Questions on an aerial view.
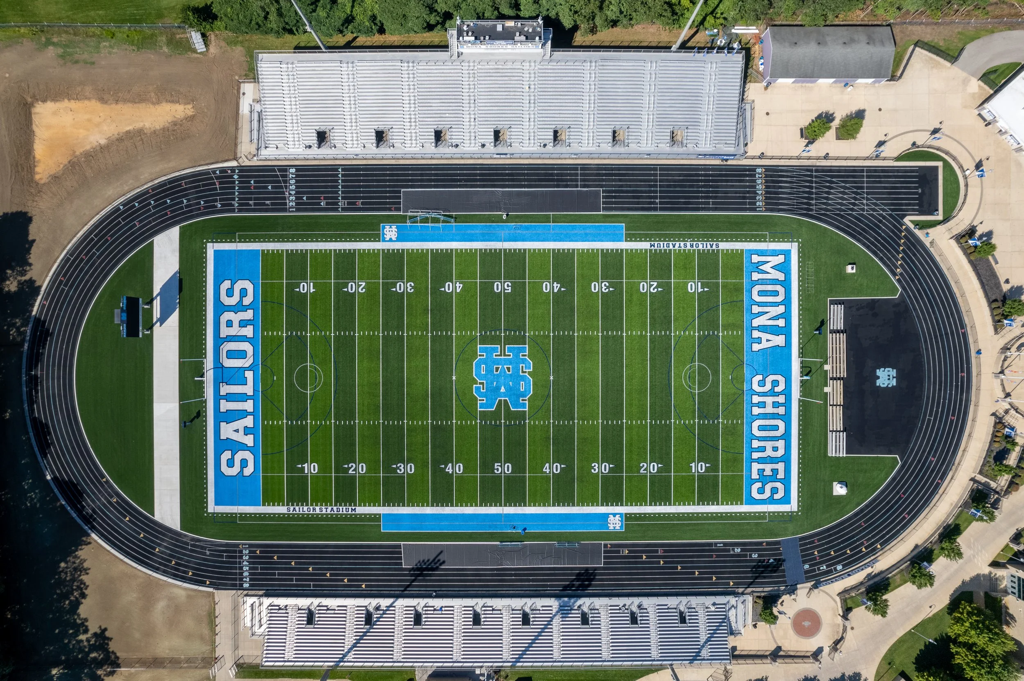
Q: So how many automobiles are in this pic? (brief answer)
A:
0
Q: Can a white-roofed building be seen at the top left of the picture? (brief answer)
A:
No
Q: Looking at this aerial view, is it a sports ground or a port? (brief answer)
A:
sports ground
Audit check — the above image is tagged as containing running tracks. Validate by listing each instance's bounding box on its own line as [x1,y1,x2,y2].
[27,165,973,590]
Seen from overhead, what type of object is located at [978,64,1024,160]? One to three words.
building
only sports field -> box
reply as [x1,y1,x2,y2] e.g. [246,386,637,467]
[75,214,926,542]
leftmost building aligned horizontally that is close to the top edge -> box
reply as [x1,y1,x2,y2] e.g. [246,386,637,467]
[762,25,897,83]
